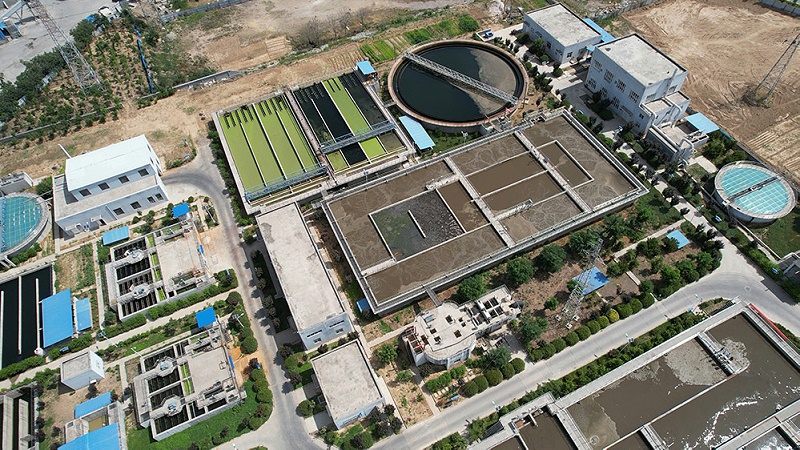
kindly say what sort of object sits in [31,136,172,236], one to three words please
building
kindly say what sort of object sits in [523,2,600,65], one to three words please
building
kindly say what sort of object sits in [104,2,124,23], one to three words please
vehicle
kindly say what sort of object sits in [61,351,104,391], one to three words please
shed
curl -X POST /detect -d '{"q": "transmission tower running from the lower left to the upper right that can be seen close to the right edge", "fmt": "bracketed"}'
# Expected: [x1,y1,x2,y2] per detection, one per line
[754,20,800,98]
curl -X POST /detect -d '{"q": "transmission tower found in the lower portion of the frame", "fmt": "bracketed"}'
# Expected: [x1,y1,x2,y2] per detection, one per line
[555,238,608,327]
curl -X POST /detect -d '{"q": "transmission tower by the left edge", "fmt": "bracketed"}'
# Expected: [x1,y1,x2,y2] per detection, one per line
[23,0,105,98]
